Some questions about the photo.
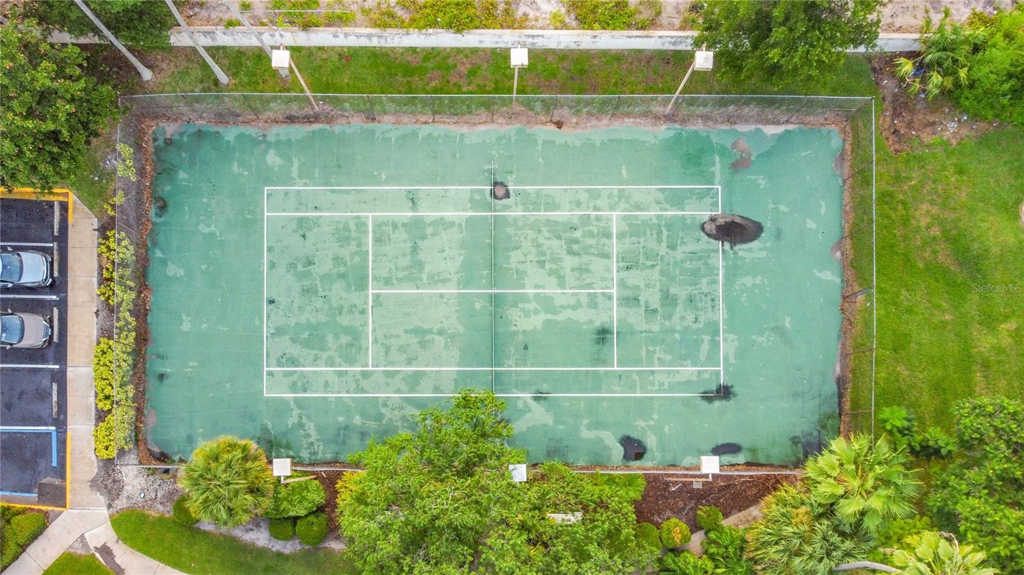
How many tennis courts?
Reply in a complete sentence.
The count comes to 1 tennis court.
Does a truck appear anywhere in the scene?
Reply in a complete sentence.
No, no truck is visible in the scene.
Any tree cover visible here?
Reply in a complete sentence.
Yes, tree cover shows up in the scene.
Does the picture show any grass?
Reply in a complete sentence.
Yes, there's grass in this view.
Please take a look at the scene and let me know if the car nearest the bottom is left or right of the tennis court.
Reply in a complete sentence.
It is on the left side of the tennis court that the car nearest the bottom is positioned.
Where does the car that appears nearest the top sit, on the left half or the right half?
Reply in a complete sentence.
It is on the left.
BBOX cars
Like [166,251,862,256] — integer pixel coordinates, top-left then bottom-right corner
[0,306,52,351]
[0,244,53,290]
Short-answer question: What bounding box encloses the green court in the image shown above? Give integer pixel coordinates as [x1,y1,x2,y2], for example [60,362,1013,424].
[147,123,842,466]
